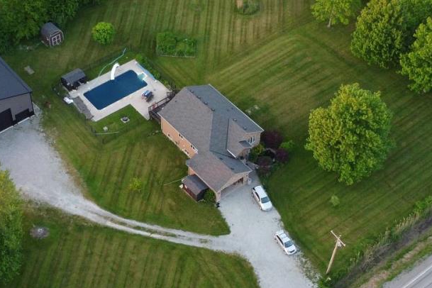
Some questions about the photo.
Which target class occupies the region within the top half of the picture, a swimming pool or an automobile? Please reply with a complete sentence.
What appears within the top half of the picture is a swimming pool.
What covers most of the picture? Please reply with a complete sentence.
For the most part, this view shows grass.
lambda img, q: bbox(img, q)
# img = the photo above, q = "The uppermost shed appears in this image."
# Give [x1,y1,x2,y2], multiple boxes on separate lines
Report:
[40,25,62,48]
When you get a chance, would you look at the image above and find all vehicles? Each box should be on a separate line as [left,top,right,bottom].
[250,182,275,209]
[274,228,300,255]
